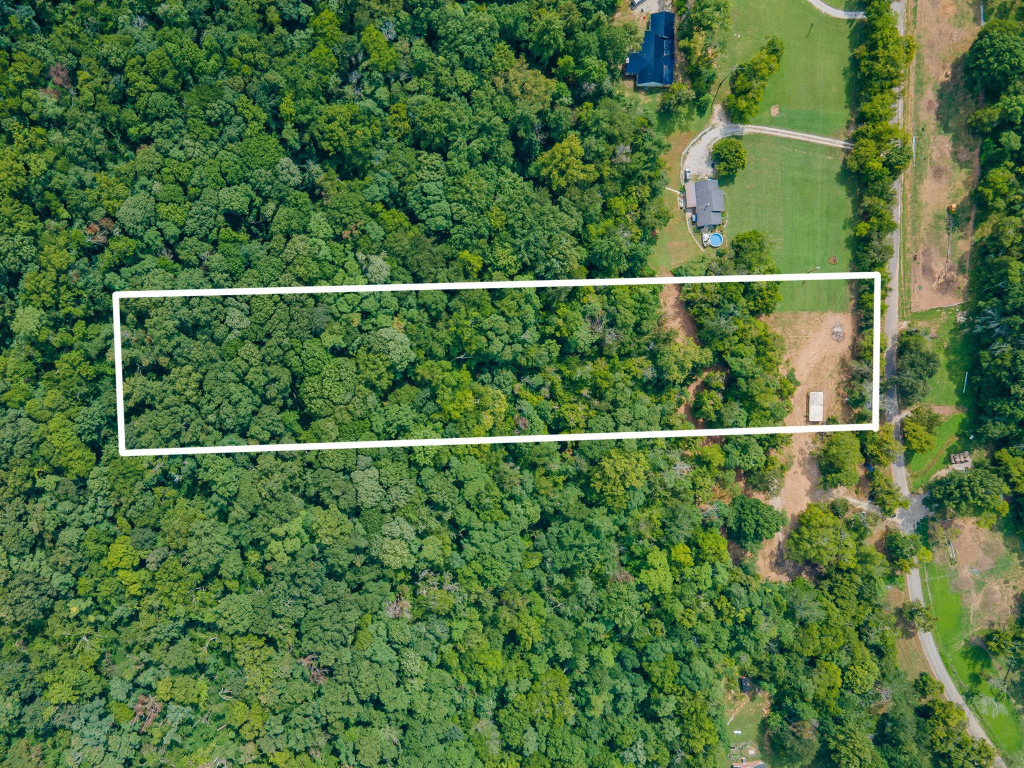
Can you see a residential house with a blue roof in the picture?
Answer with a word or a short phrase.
Yes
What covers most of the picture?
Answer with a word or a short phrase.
trees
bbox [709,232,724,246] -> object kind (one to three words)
swimming pool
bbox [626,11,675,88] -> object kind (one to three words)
house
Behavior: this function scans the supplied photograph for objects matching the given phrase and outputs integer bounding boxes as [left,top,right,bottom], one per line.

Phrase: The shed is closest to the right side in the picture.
[807,392,823,422]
